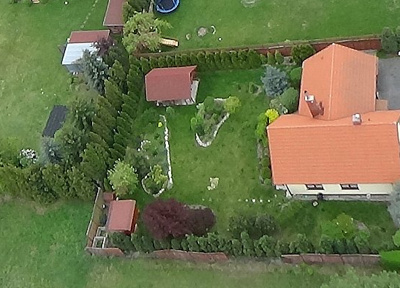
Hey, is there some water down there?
No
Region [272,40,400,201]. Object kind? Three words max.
house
